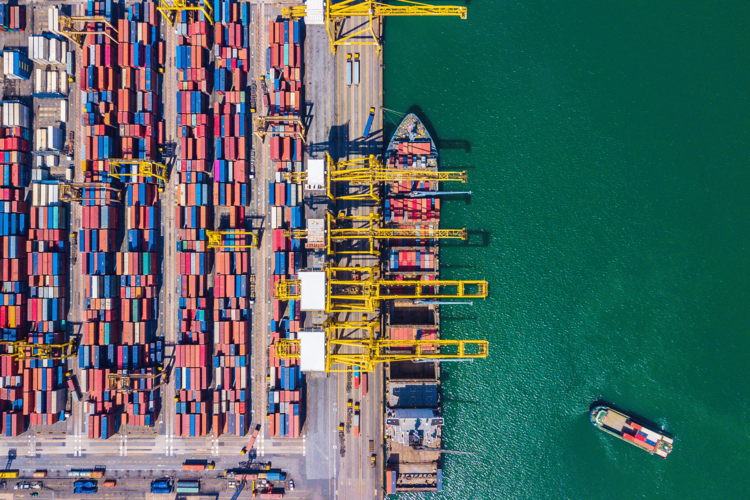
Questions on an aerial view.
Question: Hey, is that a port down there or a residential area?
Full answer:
This image shows a port.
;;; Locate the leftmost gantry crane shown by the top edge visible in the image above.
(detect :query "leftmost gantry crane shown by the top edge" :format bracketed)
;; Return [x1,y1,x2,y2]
[58,16,119,51]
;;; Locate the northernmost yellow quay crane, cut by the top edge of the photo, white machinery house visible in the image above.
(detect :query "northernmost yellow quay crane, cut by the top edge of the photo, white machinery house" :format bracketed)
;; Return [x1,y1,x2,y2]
[281,0,469,61]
